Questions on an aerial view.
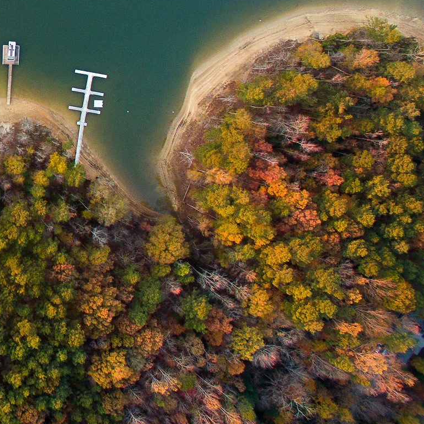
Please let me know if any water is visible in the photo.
Yes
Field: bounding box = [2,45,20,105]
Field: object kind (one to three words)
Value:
pier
